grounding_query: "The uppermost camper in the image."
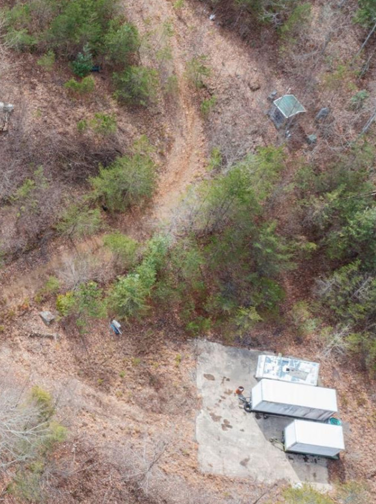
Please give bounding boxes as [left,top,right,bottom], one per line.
[238,354,319,387]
